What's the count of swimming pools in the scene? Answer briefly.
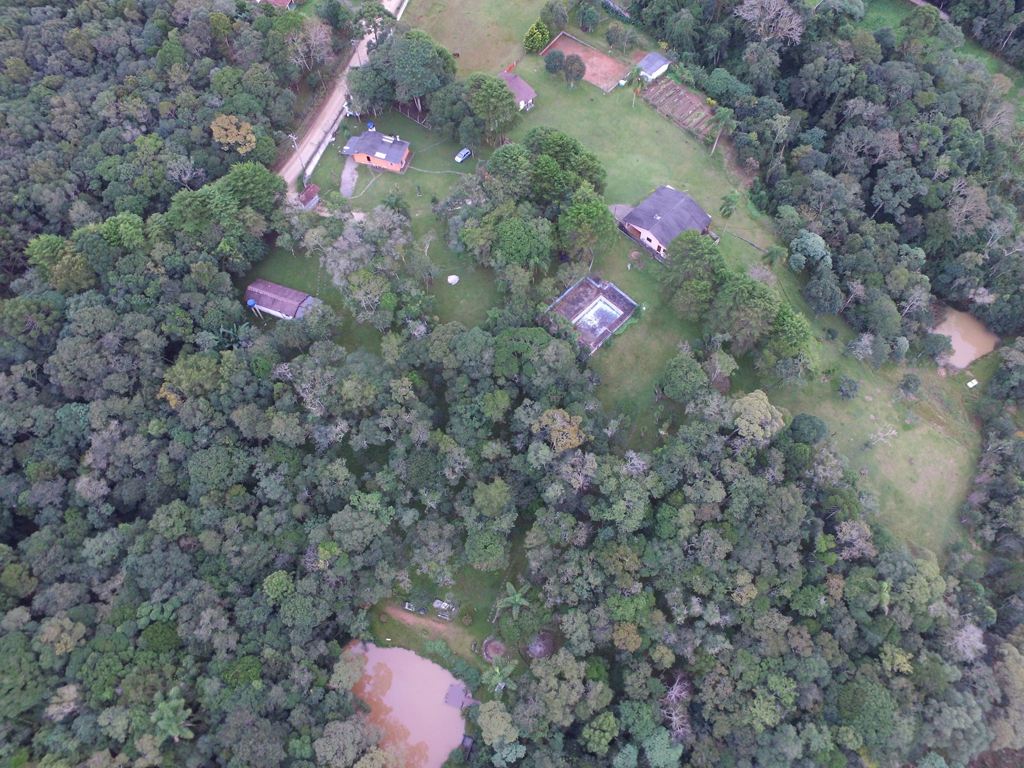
1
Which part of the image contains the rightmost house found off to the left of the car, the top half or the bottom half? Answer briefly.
top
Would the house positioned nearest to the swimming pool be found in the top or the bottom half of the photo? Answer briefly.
top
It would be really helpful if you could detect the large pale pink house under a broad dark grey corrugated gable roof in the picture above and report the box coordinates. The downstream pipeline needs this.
[620,189,709,257]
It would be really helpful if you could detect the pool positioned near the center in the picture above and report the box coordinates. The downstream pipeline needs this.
[545,274,639,356]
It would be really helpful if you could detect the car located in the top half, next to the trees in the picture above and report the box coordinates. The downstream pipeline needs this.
[453,144,473,162]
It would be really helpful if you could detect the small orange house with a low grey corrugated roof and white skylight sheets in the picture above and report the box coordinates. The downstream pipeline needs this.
[338,126,411,171]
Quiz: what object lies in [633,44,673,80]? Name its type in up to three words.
shed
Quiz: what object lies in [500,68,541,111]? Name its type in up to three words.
building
